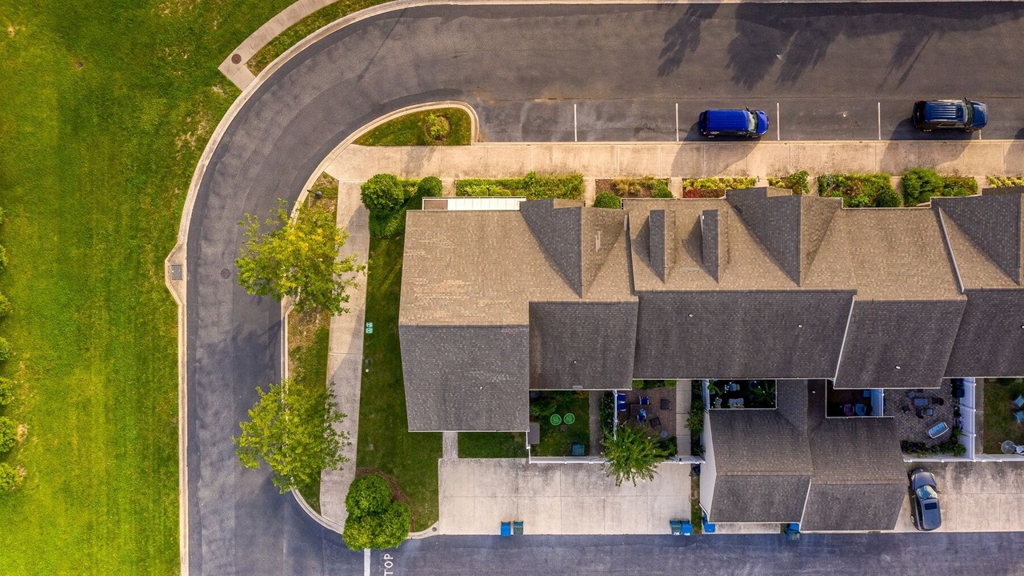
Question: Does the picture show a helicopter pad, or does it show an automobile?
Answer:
automobile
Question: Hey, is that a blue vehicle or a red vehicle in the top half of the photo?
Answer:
blue vehicle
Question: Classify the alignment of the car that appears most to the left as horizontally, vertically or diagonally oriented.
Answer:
horizontally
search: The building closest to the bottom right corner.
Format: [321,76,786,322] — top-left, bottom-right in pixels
[797,415,905,531]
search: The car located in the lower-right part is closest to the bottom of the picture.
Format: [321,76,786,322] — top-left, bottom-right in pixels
[905,467,944,536]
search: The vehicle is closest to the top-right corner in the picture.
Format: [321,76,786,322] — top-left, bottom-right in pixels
[911,97,988,133]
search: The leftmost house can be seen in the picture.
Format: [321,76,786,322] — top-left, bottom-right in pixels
[397,196,529,434]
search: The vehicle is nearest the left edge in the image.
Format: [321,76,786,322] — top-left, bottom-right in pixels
[698,106,769,140]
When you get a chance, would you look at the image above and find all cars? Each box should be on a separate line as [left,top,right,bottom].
[698,106,769,140]
[905,467,944,536]
[911,97,988,133]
